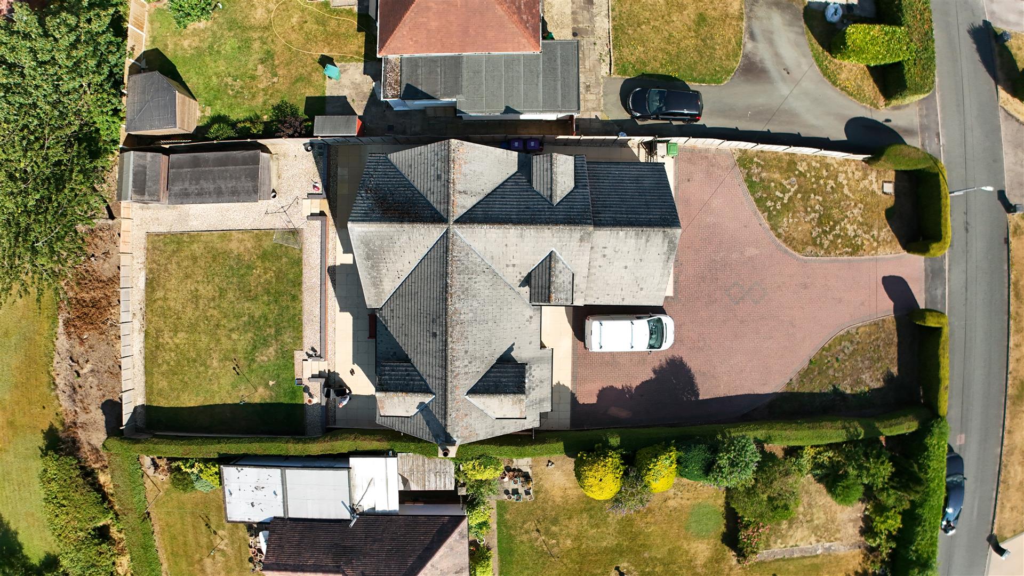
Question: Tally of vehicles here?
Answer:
3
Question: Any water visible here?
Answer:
No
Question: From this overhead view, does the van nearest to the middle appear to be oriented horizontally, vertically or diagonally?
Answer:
horizontally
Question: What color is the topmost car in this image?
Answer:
black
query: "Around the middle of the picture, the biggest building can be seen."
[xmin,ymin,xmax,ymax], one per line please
[349,138,682,458]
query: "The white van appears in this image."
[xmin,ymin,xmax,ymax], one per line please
[584,312,675,357]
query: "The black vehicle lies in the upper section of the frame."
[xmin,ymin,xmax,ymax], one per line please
[625,79,704,122]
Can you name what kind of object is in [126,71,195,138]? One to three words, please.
shed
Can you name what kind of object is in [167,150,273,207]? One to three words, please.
shed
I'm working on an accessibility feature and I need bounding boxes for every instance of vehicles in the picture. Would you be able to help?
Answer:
[625,79,704,122]
[934,452,977,534]
[584,312,675,357]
